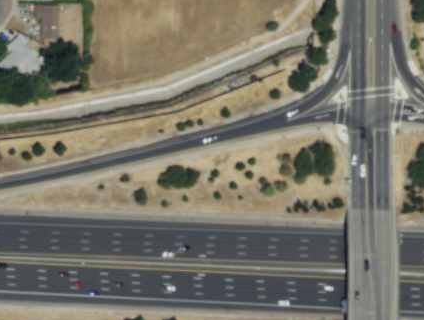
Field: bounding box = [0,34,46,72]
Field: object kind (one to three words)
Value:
house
